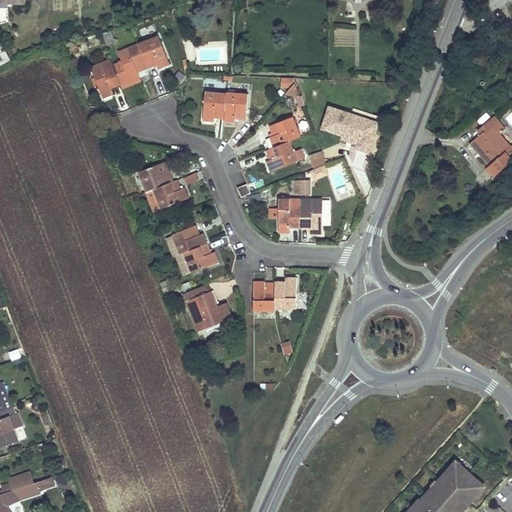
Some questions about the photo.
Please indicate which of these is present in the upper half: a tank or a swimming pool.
swimming pool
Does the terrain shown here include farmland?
Yes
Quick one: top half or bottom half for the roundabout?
bottom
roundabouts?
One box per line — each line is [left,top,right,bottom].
[340,278,450,390]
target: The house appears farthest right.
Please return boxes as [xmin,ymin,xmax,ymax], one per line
[470,110,512,176]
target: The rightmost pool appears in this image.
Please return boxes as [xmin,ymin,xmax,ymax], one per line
[326,162,356,202]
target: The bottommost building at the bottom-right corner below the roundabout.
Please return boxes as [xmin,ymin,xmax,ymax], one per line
[411,461,486,512]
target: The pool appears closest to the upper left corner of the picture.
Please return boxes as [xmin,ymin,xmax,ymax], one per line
[195,41,228,65]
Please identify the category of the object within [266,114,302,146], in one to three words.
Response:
house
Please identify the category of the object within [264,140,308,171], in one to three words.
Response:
house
